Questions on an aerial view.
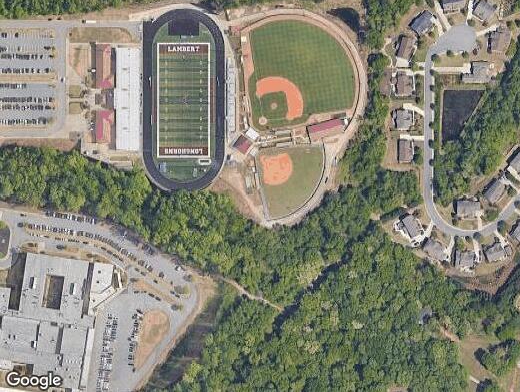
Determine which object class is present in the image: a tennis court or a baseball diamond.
baseball diamond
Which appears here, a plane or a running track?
running track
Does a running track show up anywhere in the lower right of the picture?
No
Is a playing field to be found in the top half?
Yes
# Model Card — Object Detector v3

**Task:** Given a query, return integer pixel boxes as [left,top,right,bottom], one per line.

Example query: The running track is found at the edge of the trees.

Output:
[141,10,228,193]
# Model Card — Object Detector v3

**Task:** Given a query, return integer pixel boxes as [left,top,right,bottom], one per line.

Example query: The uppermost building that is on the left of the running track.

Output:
[95,44,110,89]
